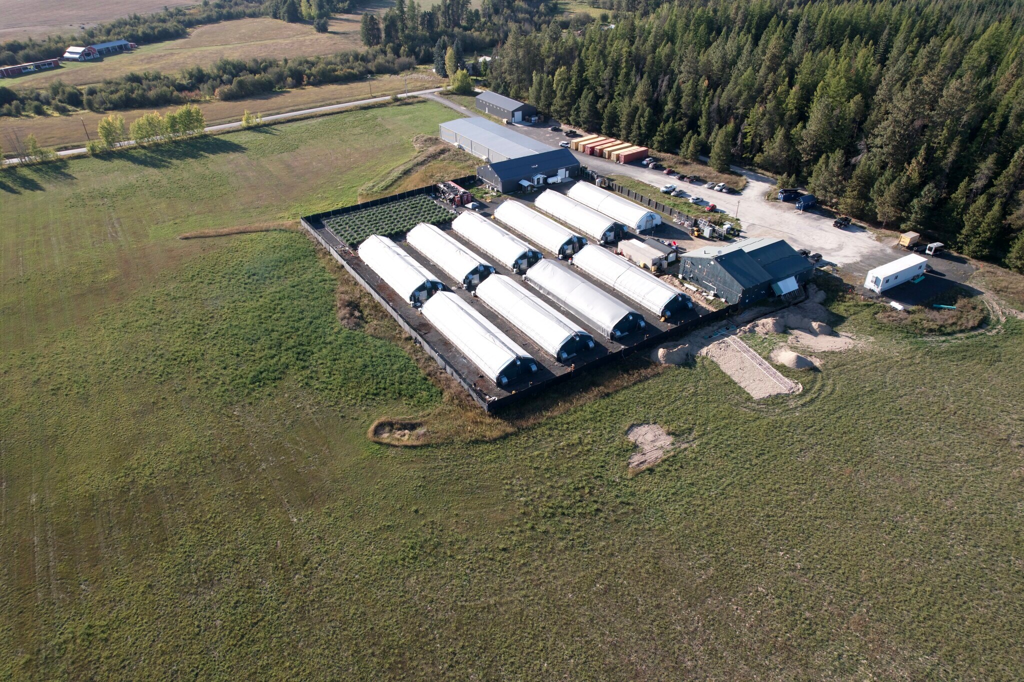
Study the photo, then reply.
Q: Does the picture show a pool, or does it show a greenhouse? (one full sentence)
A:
There is a greenhouse in the scene.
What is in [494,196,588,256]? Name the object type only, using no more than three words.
greenhouse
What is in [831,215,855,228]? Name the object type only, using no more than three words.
vehicle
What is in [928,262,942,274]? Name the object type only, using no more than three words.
vehicle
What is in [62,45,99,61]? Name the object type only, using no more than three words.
barn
